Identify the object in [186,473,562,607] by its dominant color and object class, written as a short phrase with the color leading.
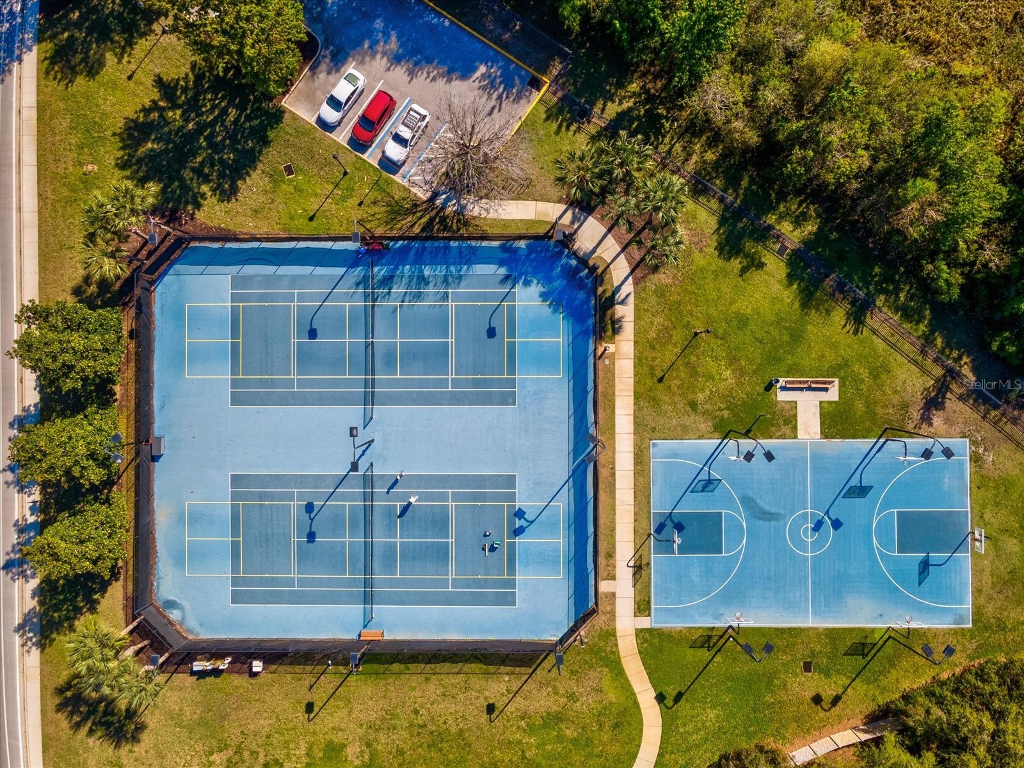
blue tennis court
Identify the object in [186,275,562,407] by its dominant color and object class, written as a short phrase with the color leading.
blue tennis court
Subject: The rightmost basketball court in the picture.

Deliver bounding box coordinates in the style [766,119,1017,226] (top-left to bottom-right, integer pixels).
[651,439,973,628]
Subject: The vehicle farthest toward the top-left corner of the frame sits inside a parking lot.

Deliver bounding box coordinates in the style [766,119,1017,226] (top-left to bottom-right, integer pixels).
[317,67,366,127]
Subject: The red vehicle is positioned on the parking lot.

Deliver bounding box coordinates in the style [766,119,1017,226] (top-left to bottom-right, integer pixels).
[352,90,398,145]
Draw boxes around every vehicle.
[382,103,433,165]
[317,67,366,127]
[352,90,398,145]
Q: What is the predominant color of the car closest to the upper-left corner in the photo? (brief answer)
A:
white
